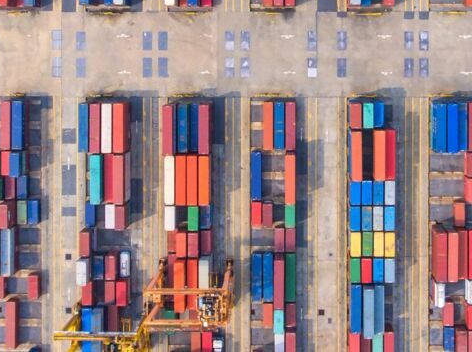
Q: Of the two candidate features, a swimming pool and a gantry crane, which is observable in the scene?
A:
gantry crane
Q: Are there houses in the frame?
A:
No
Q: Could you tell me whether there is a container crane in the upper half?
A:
No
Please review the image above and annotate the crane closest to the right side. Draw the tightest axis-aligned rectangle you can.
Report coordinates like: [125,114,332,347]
[144,263,233,328]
